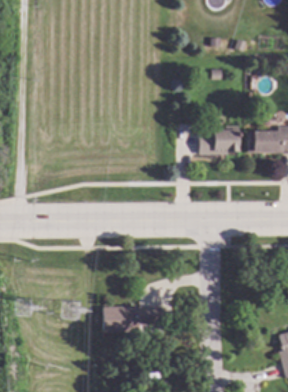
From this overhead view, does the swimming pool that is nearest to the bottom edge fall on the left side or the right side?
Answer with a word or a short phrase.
right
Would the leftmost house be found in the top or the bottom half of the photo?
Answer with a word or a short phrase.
bottom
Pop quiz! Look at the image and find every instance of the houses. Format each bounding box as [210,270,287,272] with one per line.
[254,124,288,153]
[198,127,241,156]
[100,307,152,335]
[278,333,288,380]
